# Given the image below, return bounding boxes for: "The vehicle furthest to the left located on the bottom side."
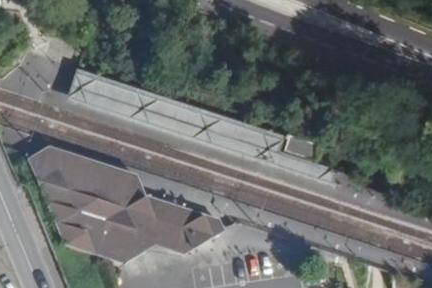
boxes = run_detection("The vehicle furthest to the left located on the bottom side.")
[0,274,15,288]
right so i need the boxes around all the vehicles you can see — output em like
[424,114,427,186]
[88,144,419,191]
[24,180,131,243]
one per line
[249,255,260,278]
[262,254,273,276]
[0,274,15,288]
[34,269,49,288]
[235,256,246,278]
